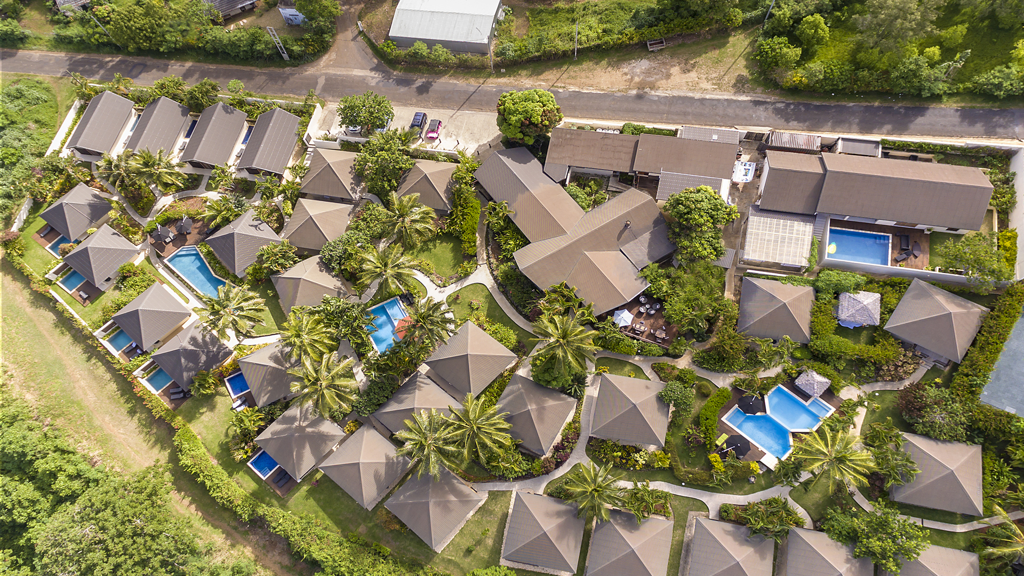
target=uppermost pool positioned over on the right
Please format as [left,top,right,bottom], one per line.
[818,226,892,265]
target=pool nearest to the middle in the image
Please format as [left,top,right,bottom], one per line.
[363,293,413,355]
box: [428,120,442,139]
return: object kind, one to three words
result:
car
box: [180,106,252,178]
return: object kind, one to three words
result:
house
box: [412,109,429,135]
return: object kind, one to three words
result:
car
